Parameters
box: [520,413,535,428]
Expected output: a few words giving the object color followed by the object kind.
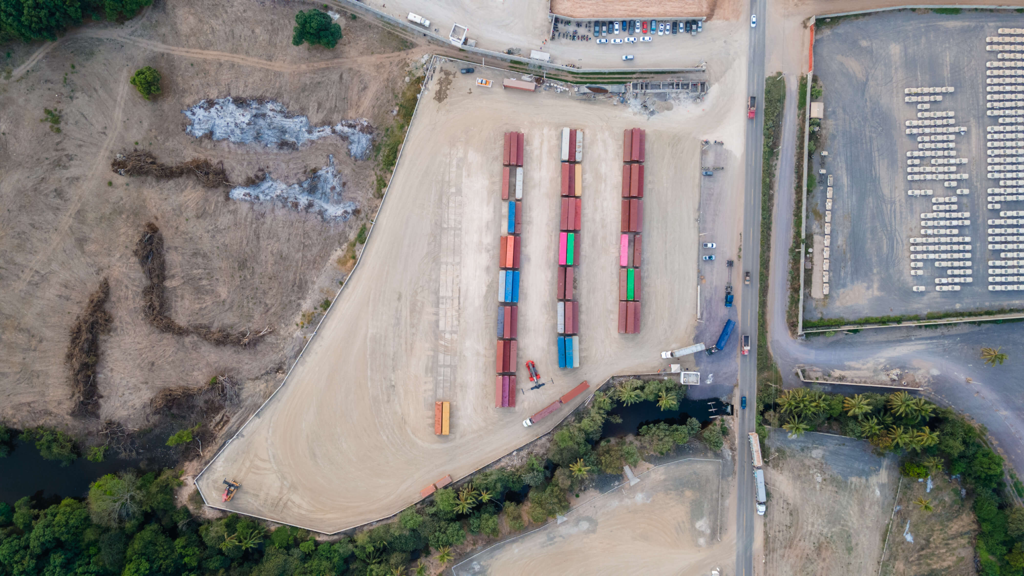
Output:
white vehicle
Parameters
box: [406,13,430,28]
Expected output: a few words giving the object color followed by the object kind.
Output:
white vehicle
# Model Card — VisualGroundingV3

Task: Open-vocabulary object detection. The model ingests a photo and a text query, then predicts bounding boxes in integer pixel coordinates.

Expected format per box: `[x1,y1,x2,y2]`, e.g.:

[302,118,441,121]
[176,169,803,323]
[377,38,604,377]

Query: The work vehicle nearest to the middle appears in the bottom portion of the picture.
[522,359,554,393]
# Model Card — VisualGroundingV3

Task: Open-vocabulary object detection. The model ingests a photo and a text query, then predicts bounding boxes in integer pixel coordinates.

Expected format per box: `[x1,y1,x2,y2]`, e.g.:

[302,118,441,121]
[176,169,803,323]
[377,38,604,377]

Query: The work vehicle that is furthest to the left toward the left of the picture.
[224,477,242,499]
